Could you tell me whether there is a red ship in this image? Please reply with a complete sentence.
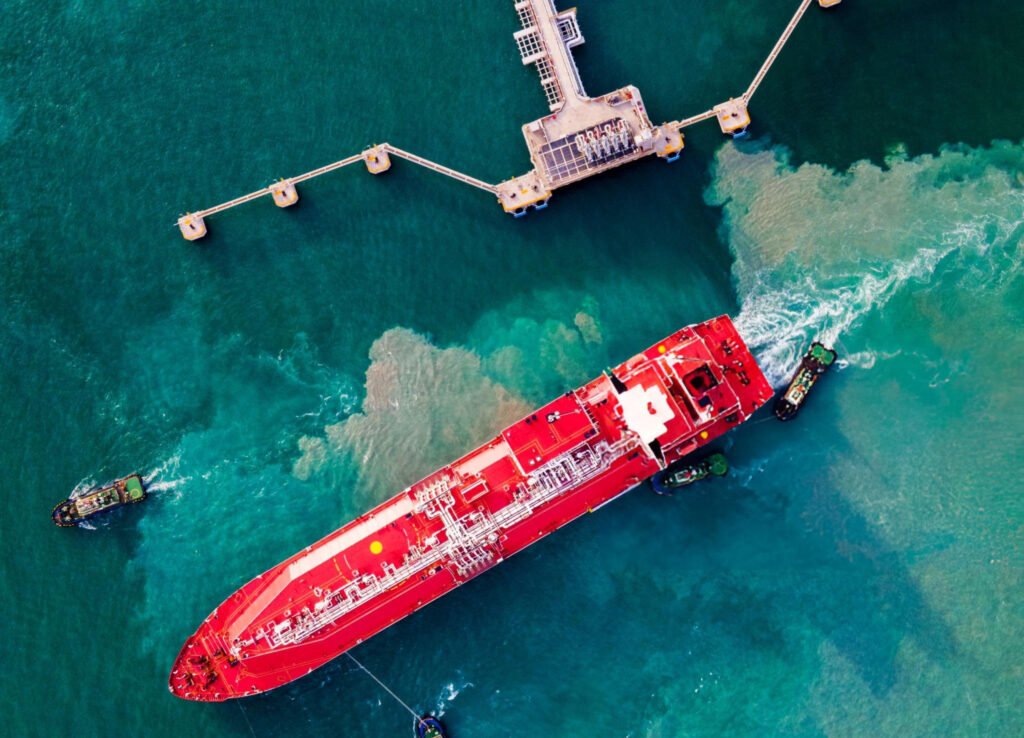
Yes, looking at the shot, I can spot a red ship.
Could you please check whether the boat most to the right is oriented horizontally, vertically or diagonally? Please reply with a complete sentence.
From this overhead view, the boat most to the right appears to run diagonally.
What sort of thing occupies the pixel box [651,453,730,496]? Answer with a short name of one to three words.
boat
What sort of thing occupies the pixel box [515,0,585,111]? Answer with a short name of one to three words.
pier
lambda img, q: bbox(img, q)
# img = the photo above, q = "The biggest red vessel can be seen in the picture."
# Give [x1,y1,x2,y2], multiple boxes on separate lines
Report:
[167,315,775,704]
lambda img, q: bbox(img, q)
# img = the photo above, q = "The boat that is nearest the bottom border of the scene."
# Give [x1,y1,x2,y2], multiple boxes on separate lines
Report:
[418,715,450,738]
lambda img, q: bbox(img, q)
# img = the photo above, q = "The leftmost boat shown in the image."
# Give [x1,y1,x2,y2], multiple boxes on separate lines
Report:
[52,476,145,523]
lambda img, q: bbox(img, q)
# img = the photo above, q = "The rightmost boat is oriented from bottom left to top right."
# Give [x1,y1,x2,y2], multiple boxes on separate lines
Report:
[777,339,840,421]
